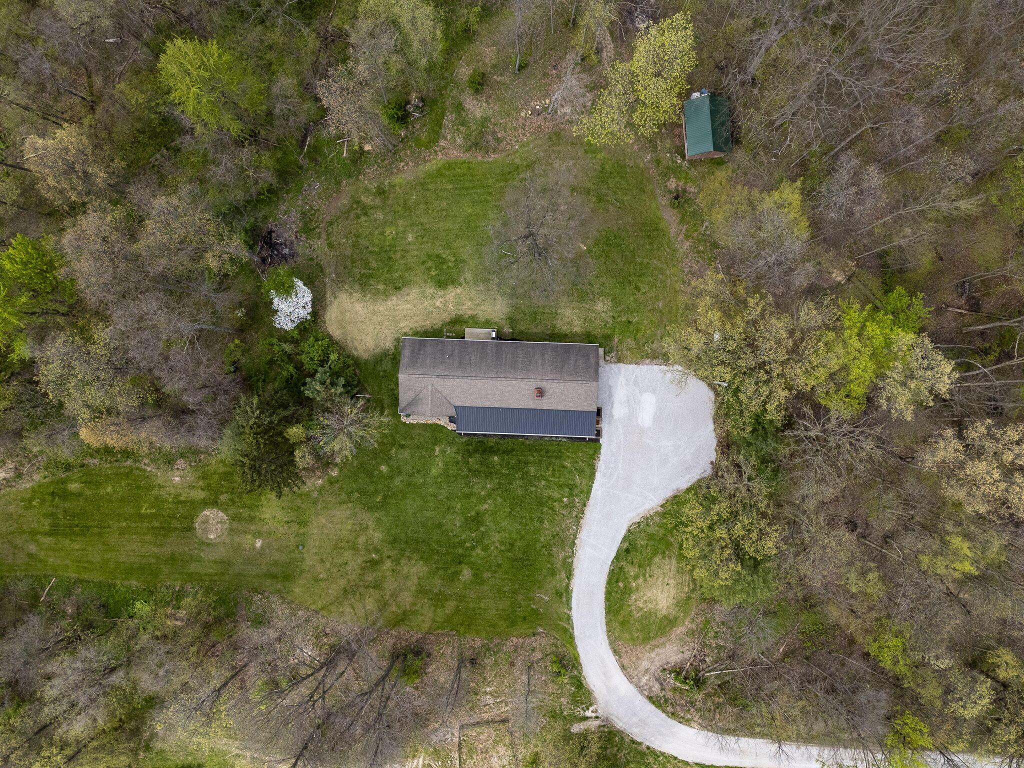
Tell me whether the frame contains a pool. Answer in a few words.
No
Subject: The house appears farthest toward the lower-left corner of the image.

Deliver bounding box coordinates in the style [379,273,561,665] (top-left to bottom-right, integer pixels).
[398,328,599,442]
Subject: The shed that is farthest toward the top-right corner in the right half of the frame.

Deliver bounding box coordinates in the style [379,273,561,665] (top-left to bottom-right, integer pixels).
[679,94,731,163]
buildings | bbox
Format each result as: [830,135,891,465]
[398,328,599,442]
[679,94,731,163]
